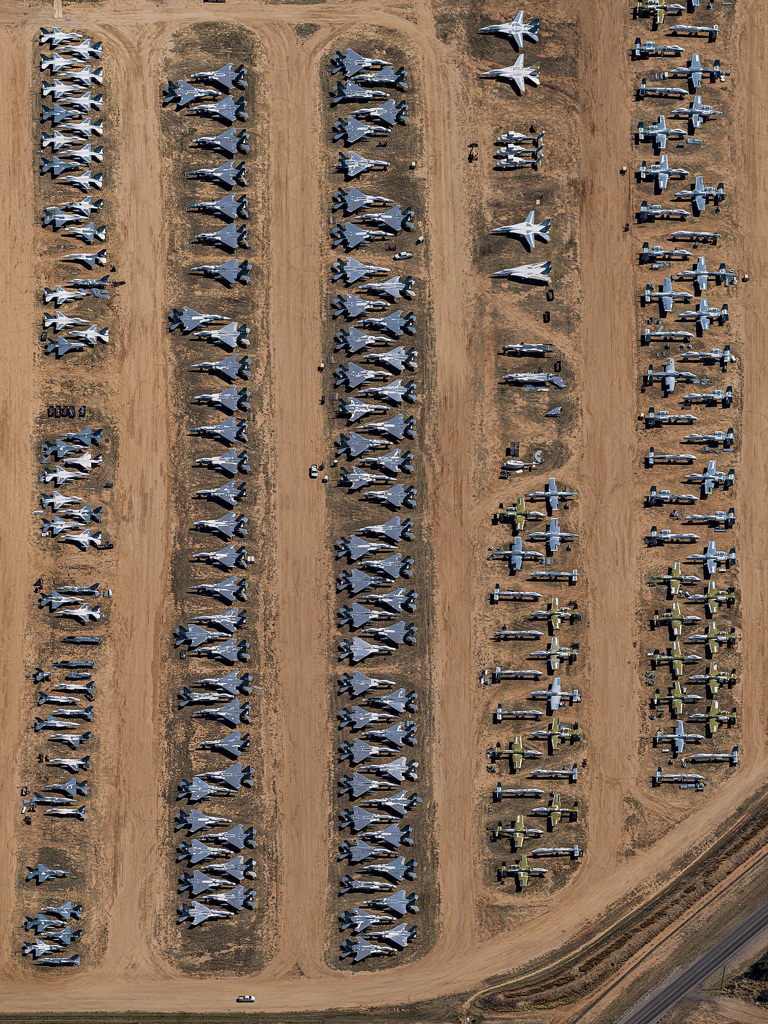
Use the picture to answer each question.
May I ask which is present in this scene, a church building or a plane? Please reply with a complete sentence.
Of the two, only a plane appears.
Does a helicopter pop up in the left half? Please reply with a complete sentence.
No, in the left half there is no helicopter.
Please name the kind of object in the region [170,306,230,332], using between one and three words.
airplane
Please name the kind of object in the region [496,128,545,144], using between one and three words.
helicopter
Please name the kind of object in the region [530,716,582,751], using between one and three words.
airplane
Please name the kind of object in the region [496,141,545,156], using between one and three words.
helicopter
